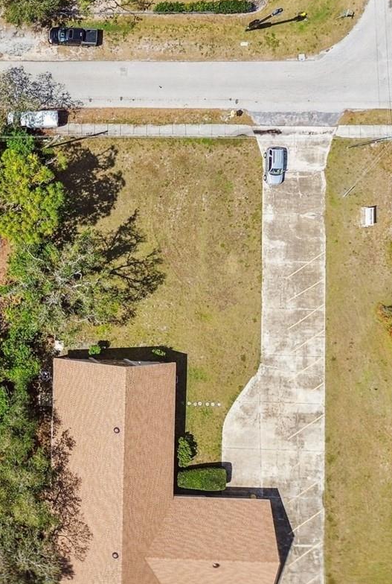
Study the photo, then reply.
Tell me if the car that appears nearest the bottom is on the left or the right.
right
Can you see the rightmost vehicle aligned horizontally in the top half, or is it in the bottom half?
top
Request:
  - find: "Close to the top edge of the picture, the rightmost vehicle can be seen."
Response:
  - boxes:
[49,26,98,45]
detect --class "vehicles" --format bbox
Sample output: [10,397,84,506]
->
[7,109,59,128]
[49,26,98,45]
[264,147,285,185]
